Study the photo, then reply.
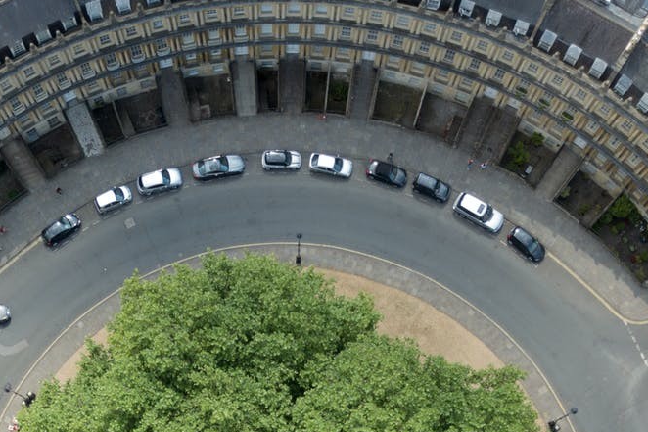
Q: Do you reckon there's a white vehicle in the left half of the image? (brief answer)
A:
Yes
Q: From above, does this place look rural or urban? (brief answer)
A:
urban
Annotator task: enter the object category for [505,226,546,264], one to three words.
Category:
car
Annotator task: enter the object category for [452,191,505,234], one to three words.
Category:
car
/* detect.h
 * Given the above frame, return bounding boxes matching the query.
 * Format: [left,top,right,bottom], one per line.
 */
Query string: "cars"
[136,166,184,197]
[0,305,11,324]
[193,154,245,182]
[93,184,134,215]
[261,148,302,171]
[365,159,408,187]
[452,191,505,234]
[409,171,452,203]
[505,226,546,264]
[41,213,84,249]
[309,155,354,179]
